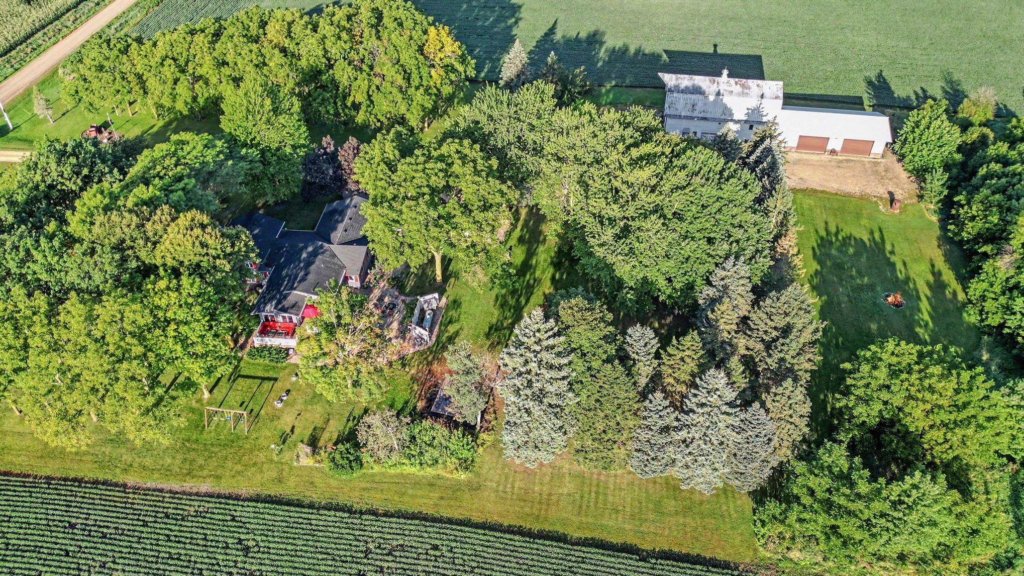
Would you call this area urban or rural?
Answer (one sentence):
The land in this view is best described as rural.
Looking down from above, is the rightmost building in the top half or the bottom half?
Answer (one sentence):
It is in the top half that the rightmost building appears.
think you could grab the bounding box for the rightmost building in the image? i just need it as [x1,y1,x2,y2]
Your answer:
[781,105,893,160]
